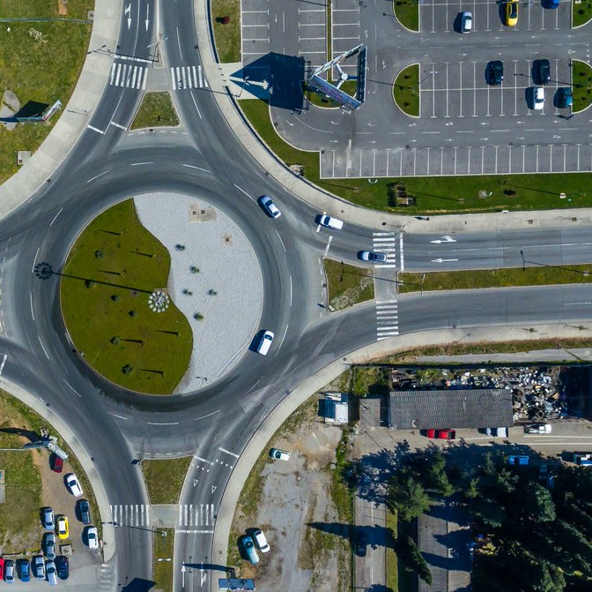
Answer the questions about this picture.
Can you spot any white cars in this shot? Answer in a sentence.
Yes, the image includes a white car.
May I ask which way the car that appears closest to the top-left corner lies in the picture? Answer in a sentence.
What the image shows is the car that appears closest to the top-left corner lying at an angle.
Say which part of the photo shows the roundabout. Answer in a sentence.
You can find the roundabout in the left area of the picture.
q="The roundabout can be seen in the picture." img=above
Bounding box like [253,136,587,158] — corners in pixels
[0,129,323,453]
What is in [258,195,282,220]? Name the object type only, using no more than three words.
car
